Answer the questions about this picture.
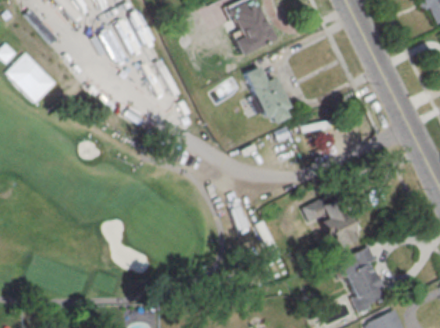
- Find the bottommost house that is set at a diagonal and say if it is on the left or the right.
right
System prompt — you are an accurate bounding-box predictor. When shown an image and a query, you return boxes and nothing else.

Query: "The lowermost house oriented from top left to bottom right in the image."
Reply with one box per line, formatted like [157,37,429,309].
[302,199,366,246]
